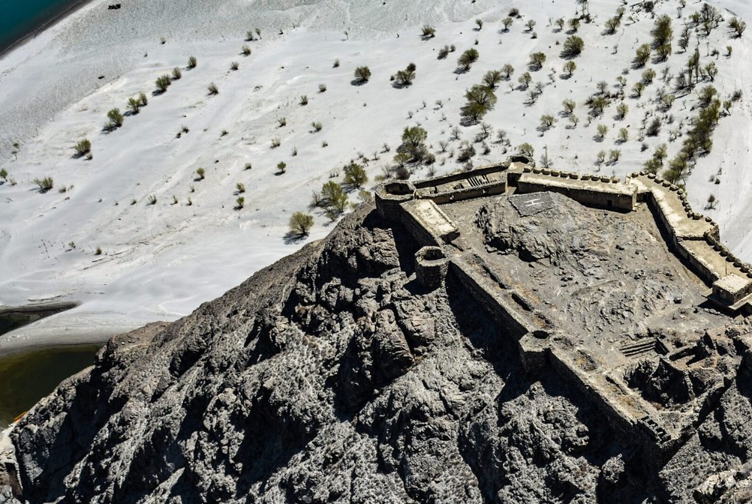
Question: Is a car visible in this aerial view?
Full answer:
No, no car is visible in the view.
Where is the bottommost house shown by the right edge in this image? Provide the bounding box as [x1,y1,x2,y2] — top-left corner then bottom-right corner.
[702,272,752,312]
